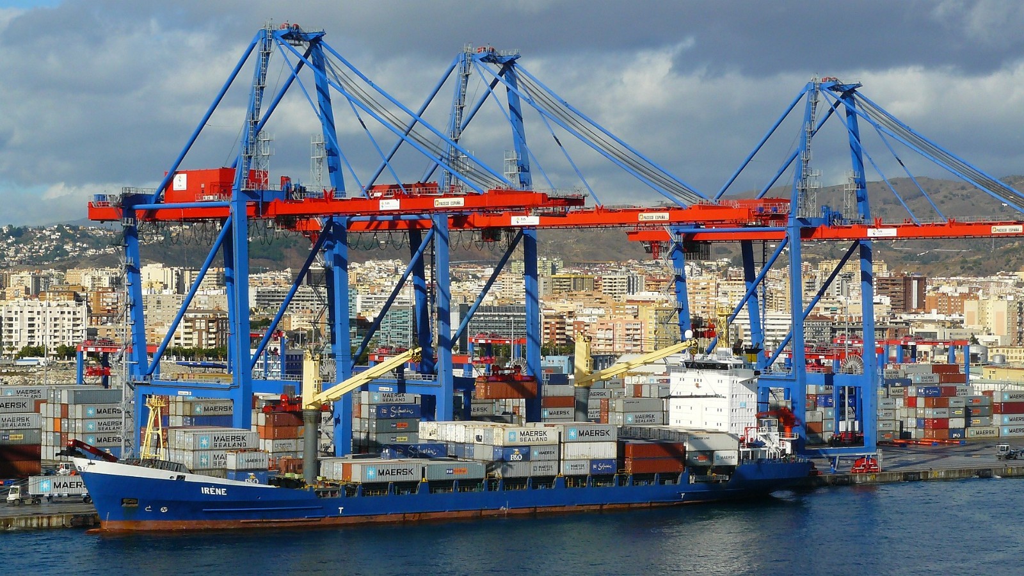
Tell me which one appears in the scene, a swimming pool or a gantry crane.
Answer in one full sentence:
This aerial view contains a gantry crane.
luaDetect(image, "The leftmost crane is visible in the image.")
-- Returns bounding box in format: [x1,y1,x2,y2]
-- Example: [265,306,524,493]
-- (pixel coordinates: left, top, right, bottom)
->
[77,338,198,438]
